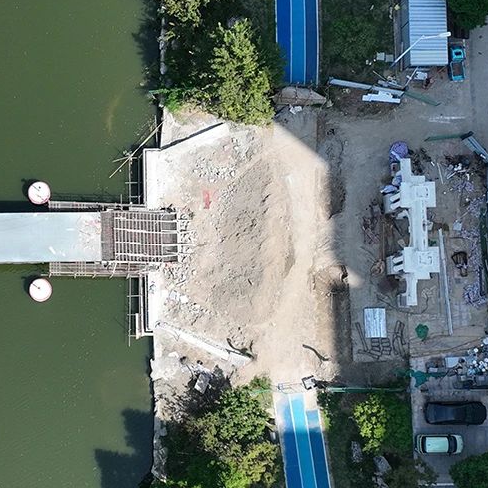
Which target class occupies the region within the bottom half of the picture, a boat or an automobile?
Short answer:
automobile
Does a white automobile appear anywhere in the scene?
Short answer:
No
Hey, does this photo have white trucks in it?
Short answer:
No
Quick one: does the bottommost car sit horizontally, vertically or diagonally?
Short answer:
horizontally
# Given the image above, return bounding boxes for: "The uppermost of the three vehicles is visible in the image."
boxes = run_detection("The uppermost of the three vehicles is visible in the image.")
[443,42,468,81]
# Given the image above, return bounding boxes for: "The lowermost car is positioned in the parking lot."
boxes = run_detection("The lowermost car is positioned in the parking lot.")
[412,432,461,458]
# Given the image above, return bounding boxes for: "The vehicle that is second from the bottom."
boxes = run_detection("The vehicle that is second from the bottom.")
[421,399,486,428]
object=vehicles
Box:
[443,42,468,81]
[421,399,486,428]
[412,432,461,458]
